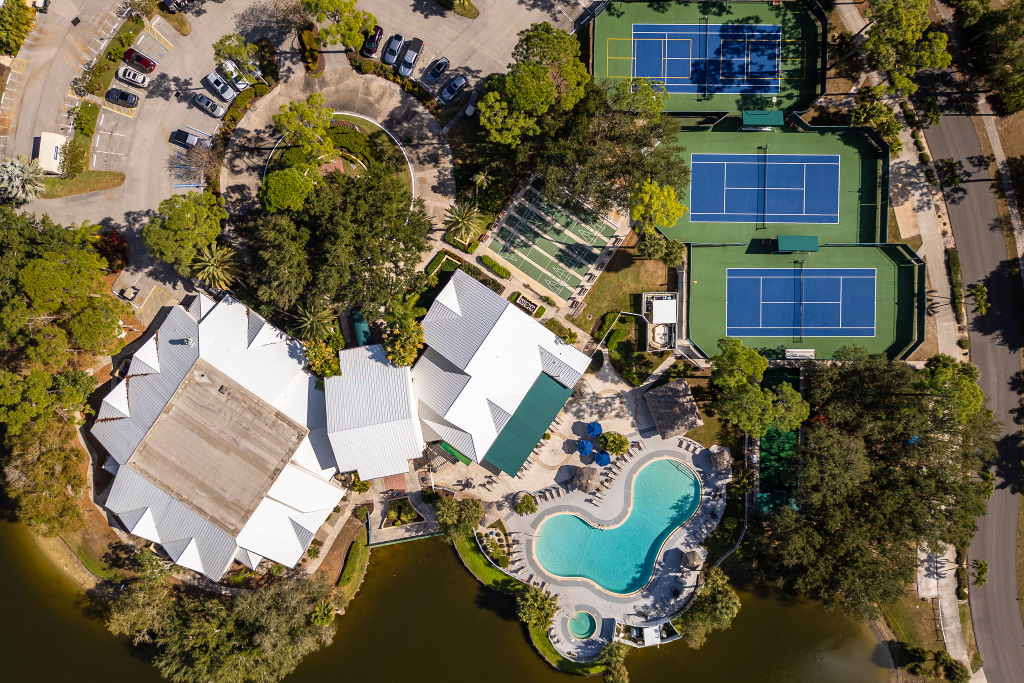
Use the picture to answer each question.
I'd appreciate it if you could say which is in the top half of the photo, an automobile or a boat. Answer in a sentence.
Looking in the top half of the photo, you will find an automobile.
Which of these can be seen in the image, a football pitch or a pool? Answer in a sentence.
There is a pool in the scene.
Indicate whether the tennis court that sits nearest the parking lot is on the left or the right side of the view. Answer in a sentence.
The tennis court that sits nearest the parking lot sits on the right side.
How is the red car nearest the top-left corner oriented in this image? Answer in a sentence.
In this picture, the red car nearest the top-left corner is oriented at an angle.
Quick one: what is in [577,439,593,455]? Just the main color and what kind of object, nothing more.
blue umbrella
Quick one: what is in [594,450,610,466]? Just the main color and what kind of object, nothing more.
blue umbrella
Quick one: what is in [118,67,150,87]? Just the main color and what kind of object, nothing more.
white car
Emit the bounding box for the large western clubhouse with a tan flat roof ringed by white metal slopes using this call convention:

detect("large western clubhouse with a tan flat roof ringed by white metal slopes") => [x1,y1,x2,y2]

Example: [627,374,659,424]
[90,293,346,581]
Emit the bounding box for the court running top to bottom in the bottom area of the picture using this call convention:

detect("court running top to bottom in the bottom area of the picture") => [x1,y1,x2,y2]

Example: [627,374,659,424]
[756,369,800,513]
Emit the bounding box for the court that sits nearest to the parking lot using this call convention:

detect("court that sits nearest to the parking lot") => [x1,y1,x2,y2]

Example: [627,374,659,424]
[597,2,820,132]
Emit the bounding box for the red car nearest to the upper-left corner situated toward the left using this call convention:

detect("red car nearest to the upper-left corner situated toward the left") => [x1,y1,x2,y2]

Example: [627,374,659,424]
[126,48,156,74]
